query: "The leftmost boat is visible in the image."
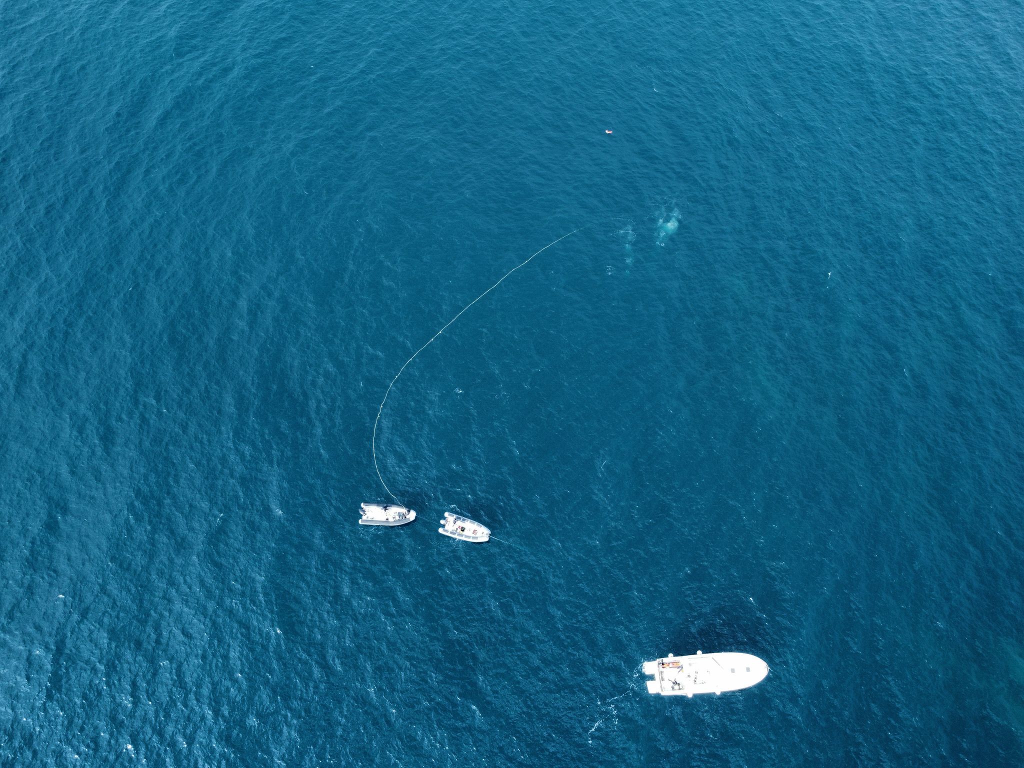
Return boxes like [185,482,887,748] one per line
[360,503,417,526]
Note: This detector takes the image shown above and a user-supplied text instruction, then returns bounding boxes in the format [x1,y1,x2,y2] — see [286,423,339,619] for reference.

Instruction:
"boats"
[642,651,772,697]
[441,513,491,542]
[360,503,417,526]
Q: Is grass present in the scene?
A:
No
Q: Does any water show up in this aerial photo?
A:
Yes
